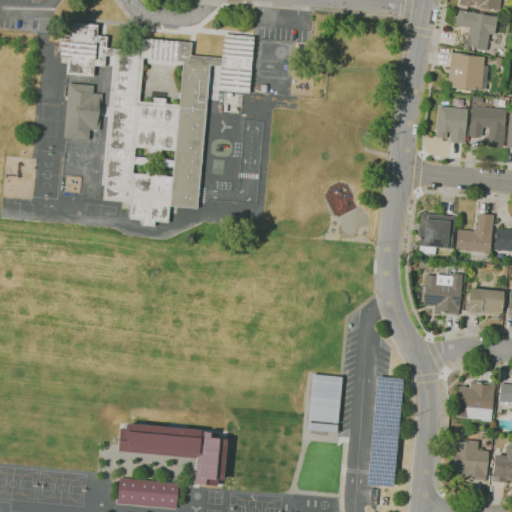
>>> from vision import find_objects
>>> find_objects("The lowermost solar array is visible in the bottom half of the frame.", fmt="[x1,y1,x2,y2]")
[368,377,402,486]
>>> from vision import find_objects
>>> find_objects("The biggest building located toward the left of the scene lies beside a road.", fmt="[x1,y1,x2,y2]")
[102,39,222,226]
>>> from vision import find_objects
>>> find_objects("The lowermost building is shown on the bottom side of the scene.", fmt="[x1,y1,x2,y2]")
[116,480,178,509]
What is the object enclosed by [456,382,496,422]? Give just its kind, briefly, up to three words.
house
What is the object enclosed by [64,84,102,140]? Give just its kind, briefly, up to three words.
building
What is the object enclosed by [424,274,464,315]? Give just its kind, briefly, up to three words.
house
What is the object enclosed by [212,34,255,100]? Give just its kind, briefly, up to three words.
building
